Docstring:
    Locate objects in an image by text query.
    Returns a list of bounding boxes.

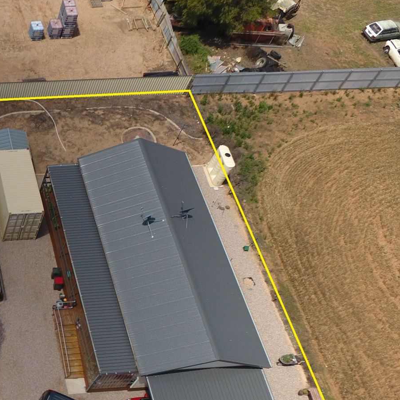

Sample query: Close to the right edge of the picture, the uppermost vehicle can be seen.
[361,21,400,47]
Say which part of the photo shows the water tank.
center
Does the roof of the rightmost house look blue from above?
No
